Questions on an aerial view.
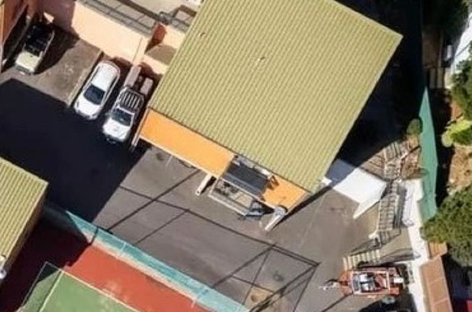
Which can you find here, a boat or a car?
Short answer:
car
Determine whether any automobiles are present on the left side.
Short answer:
Yes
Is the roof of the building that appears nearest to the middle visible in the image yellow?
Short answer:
Yes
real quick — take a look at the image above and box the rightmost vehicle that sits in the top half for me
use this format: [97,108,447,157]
[104,80,151,148]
